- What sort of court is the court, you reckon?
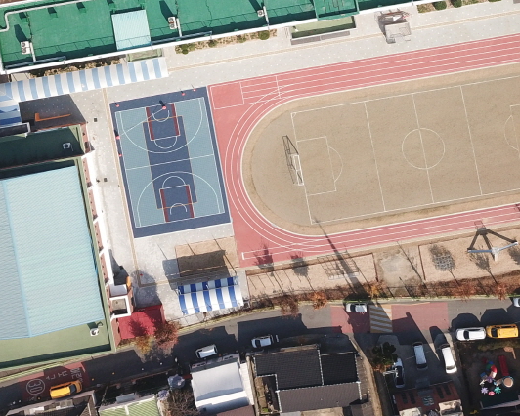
basketball court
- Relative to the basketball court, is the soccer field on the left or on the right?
on its right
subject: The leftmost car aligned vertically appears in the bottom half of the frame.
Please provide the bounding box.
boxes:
[393,361,405,387]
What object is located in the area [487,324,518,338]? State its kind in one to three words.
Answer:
vehicle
